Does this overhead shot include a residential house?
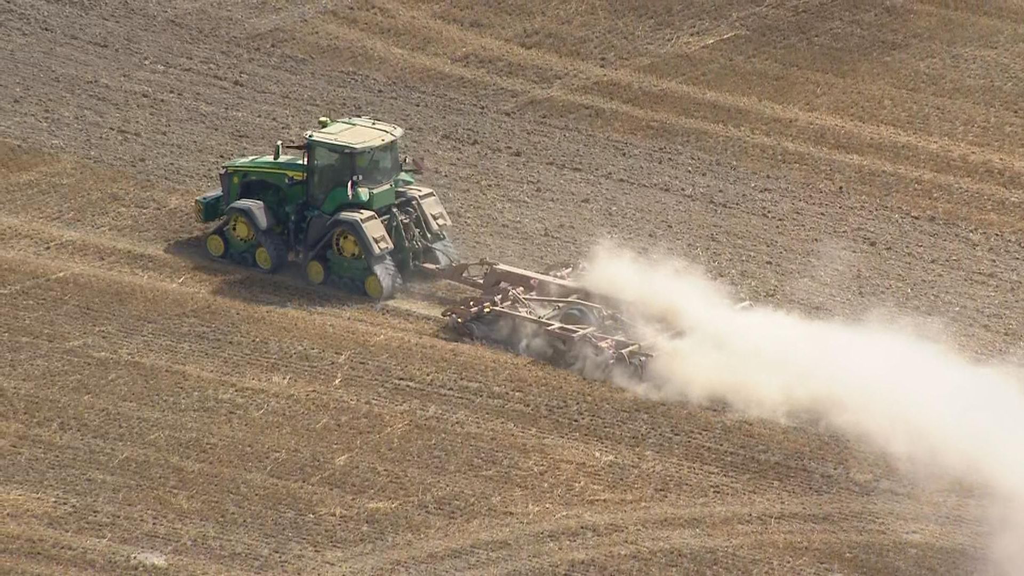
No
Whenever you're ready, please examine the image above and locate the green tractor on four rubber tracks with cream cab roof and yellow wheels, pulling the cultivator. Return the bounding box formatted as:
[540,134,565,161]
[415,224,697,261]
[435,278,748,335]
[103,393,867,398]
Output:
[199,115,464,303]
